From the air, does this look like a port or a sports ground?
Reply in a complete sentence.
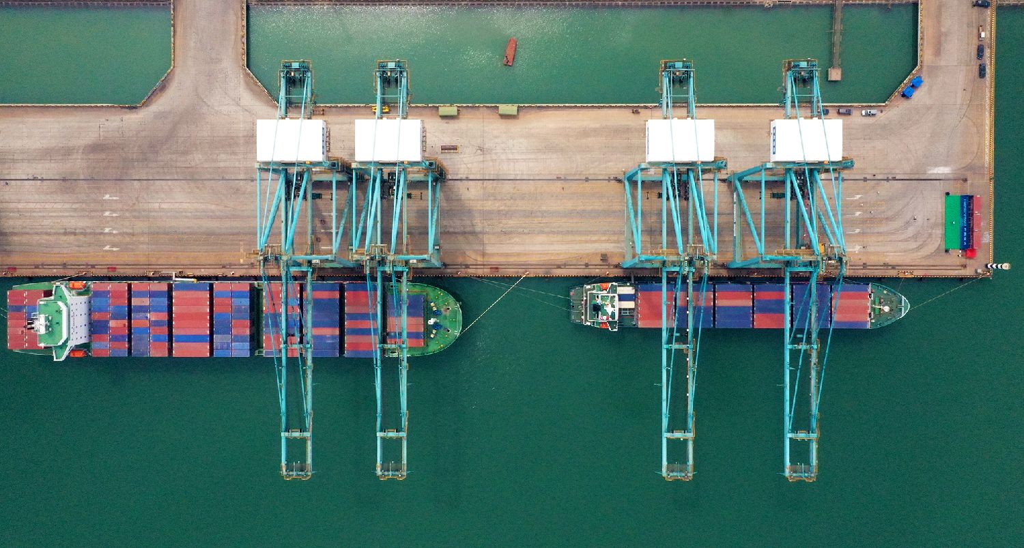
This looks like a port.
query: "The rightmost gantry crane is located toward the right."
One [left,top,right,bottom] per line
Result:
[715,57,858,482]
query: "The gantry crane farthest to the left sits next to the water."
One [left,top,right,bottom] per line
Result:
[249,59,368,480]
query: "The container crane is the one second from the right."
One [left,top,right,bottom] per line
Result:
[608,58,732,481]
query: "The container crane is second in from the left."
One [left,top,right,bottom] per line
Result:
[347,58,458,480]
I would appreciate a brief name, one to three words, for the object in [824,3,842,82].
pier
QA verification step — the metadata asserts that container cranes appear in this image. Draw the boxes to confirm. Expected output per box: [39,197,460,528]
[249,59,368,480]
[347,58,458,480]
[715,57,858,482]
[608,58,732,481]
